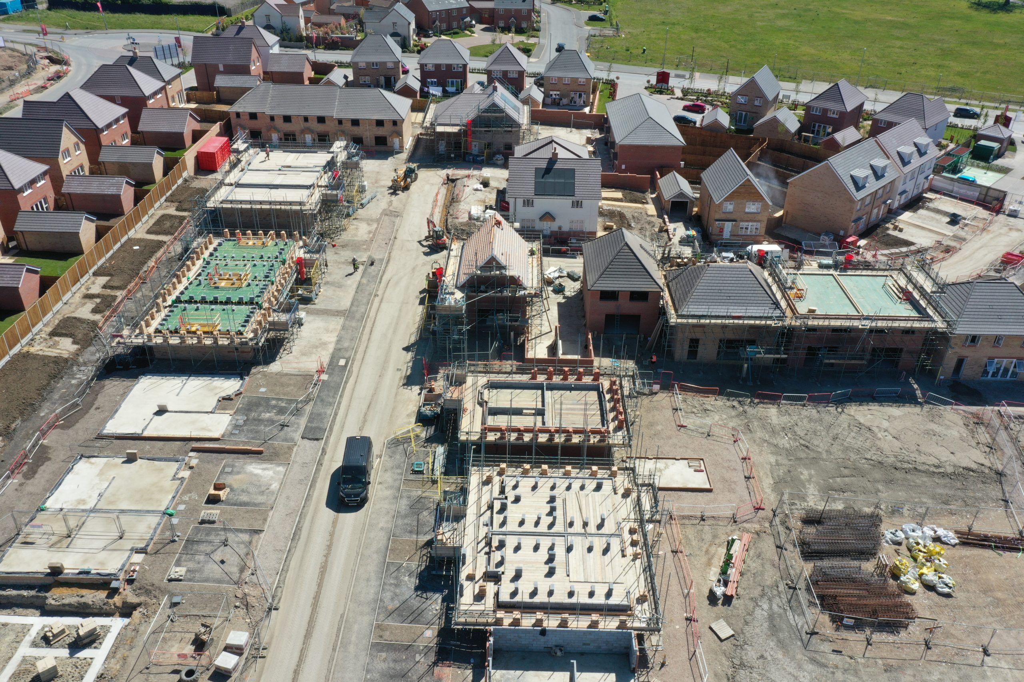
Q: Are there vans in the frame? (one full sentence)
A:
Yes, the picture does show a van.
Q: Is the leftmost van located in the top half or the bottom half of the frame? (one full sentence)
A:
It is in the bottom half that the leftmost van appears.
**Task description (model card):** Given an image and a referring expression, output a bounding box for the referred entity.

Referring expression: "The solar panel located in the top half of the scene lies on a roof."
[535,166,573,191]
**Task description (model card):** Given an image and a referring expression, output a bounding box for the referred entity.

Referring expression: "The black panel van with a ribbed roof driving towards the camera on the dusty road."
[335,436,378,502]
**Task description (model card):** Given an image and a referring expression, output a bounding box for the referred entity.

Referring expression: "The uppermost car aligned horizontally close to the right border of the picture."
[953,105,981,118]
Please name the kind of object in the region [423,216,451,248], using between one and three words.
work vehicle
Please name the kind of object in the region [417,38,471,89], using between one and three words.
house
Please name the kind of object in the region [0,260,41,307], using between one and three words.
building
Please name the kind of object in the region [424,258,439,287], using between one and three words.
vehicle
